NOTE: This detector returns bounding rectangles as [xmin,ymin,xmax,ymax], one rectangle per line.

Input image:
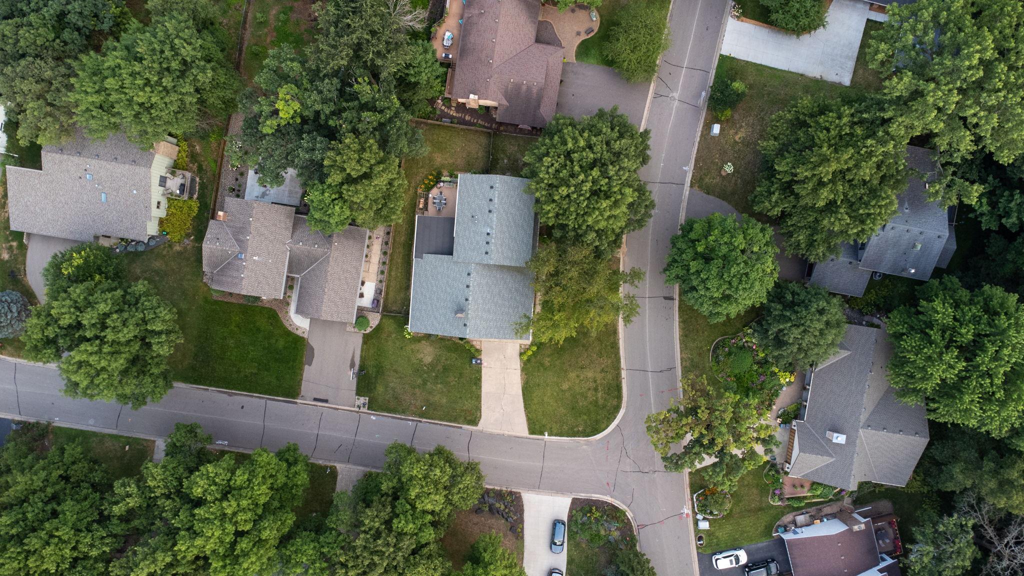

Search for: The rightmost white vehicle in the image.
[711,548,747,569]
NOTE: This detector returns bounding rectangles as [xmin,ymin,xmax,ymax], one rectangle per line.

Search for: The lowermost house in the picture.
[772,506,908,576]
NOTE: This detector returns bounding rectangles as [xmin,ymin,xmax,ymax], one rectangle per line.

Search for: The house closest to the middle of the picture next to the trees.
[406,174,536,344]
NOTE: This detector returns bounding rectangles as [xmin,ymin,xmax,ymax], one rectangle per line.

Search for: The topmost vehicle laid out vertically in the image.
[549,518,567,554]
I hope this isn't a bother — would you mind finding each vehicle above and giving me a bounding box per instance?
[711,548,747,569]
[738,559,779,576]
[549,565,564,576]
[549,518,567,554]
